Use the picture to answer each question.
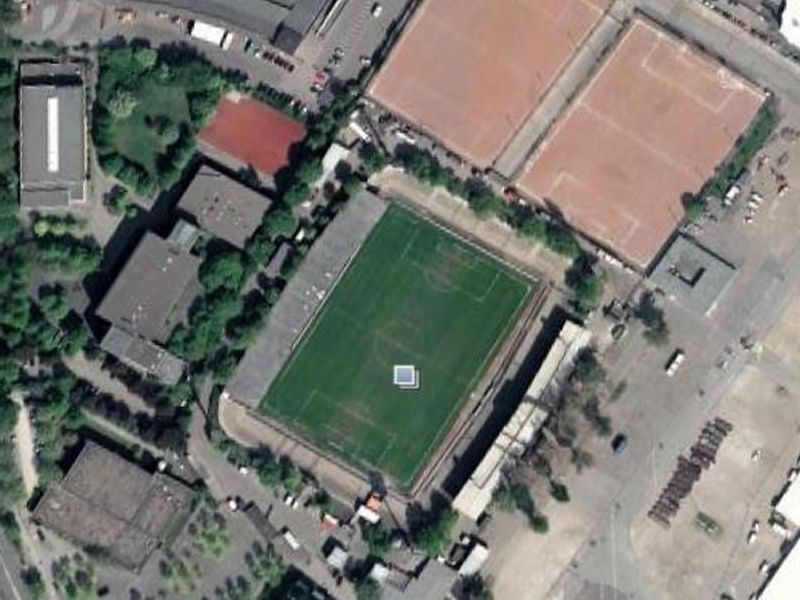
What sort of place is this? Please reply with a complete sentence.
It's a sports ground.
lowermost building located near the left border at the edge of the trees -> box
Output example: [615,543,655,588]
[32,441,198,573]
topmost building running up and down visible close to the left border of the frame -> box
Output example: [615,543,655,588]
[20,62,89,209]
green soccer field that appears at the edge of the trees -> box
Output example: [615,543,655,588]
[259,203,539,494]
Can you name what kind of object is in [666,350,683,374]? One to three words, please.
vehicle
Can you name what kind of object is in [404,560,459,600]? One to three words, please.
building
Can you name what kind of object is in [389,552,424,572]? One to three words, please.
house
